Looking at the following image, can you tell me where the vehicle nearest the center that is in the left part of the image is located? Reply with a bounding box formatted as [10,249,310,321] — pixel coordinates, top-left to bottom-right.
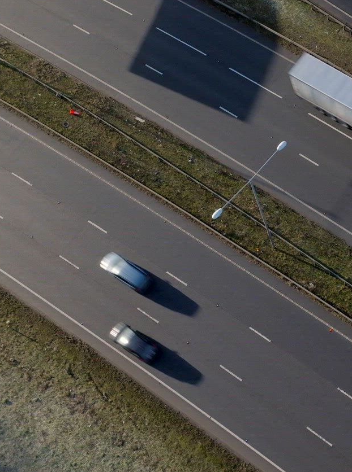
[102,254,153,294]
